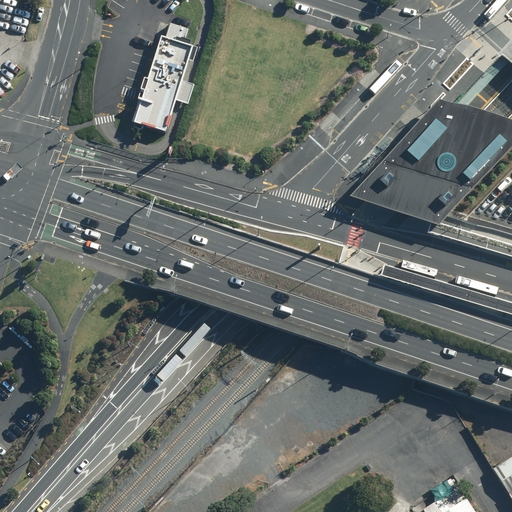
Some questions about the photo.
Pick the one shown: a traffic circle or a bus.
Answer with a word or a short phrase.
bus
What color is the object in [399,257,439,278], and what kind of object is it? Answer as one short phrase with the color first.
white bus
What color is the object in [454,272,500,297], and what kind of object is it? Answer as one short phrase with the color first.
white bus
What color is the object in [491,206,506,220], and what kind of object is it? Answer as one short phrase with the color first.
white vehicle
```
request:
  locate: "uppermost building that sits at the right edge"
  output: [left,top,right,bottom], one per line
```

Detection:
[350,100,512,224]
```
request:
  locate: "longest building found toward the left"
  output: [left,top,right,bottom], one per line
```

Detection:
[133,22,198,131]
